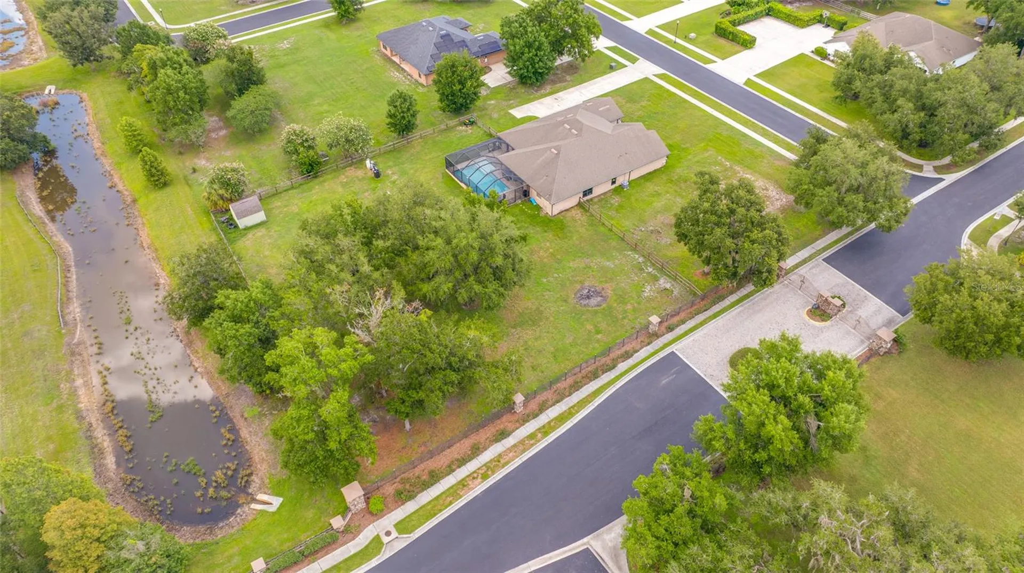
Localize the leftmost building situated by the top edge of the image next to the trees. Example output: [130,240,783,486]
[375,14,506,85]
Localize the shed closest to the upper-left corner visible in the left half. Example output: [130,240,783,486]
[230,196,266,229]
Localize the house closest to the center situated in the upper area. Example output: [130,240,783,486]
[492,97,672,216]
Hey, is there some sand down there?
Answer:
No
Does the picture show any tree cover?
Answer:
Yes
